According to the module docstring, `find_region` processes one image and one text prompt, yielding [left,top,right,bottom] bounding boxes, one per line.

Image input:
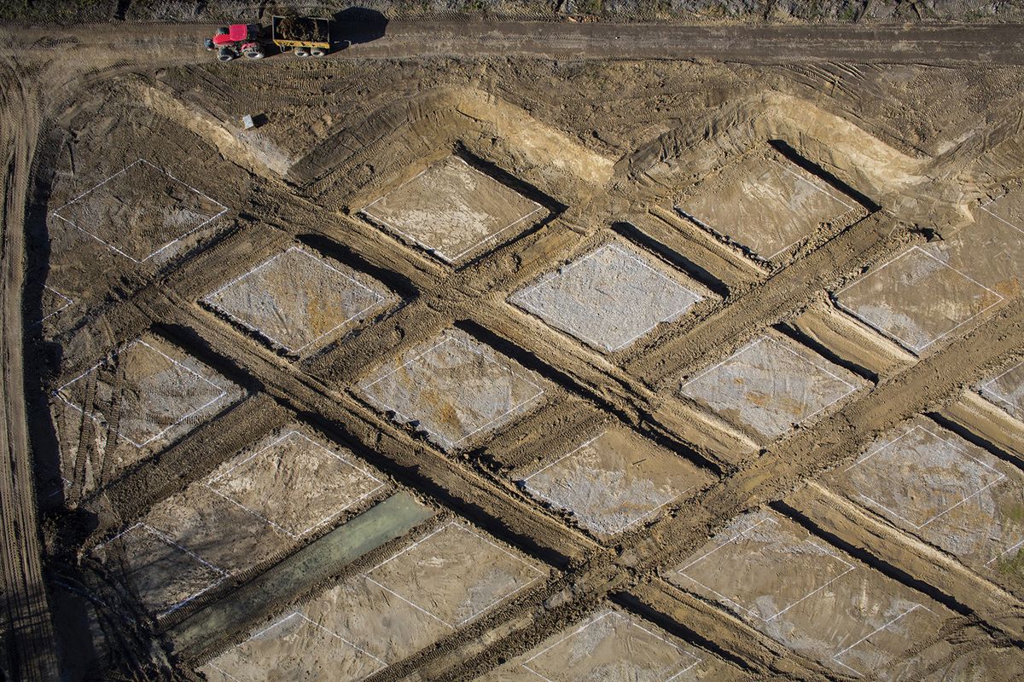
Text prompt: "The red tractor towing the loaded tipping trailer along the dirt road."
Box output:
[209,23,267,59]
